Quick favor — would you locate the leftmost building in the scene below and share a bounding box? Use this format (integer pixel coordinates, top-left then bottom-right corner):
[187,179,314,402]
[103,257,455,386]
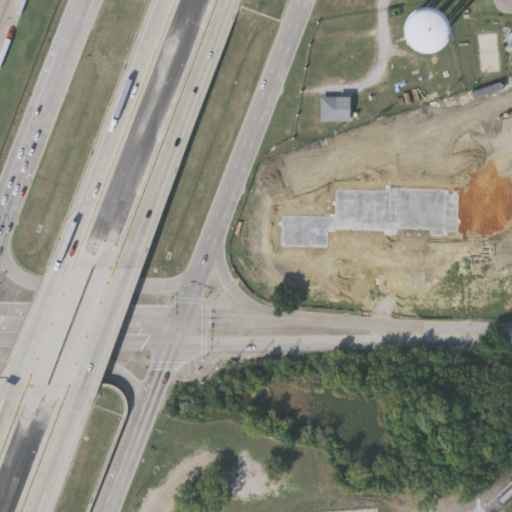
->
[321,98,352,122]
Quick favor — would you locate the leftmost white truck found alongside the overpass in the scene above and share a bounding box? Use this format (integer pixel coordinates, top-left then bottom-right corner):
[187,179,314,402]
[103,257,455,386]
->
[54,222,76,272]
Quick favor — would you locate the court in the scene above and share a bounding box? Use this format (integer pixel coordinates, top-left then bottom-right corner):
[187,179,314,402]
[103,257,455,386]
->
[478,33,500,73]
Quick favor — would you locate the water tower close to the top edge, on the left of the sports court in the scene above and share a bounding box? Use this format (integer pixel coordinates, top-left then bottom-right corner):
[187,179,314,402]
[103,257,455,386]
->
[405,7,452,54]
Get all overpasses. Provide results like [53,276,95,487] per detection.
[0,266,144,385]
